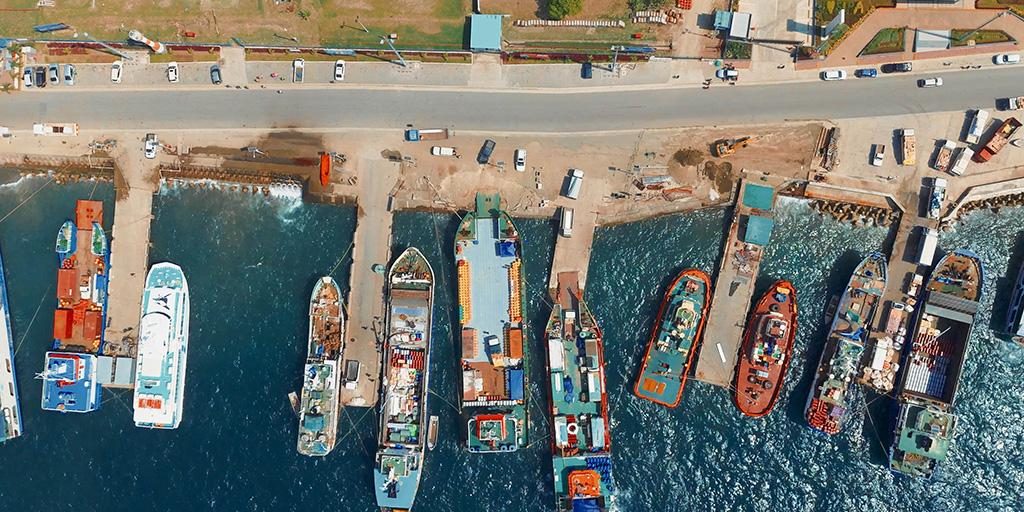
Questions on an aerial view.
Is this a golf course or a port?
port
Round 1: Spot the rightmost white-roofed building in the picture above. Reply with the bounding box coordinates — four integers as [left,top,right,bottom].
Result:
[726,11,751,42]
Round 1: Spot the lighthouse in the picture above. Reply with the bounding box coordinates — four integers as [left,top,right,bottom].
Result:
[130,28,166,56]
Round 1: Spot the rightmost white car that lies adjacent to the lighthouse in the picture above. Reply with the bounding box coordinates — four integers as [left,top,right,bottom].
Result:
[169,62,181,85]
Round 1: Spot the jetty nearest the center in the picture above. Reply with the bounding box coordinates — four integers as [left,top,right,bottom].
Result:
[548,190,602,290]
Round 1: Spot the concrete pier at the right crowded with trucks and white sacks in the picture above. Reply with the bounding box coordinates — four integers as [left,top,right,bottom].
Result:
[854,190,944,397]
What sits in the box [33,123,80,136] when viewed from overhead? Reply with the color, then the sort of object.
white vehicle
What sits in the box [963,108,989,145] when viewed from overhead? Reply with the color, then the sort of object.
white truck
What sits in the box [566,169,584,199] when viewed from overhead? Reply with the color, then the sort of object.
white vehicle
